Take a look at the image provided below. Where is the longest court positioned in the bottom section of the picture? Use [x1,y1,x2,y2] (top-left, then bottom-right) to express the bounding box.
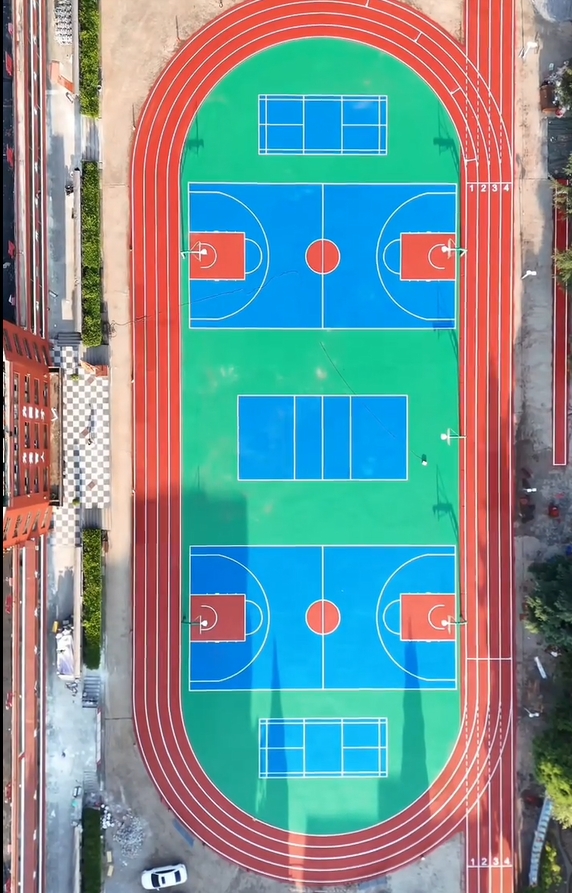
[189,546,457,691]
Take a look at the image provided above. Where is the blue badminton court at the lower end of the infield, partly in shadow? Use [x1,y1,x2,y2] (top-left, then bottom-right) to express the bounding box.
[259,719,388,778]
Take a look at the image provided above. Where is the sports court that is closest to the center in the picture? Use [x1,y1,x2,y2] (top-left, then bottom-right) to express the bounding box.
[237,395,408,481]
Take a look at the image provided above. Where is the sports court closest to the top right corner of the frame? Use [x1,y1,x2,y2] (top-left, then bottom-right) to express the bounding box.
[258,94,387,154]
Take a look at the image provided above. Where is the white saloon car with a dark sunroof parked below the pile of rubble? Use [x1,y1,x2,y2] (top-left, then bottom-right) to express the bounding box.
[141,863,188,890]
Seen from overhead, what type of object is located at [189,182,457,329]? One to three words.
basketball court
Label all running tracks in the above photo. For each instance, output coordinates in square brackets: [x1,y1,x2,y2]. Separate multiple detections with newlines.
[132,0,518,893]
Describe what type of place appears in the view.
sports ground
